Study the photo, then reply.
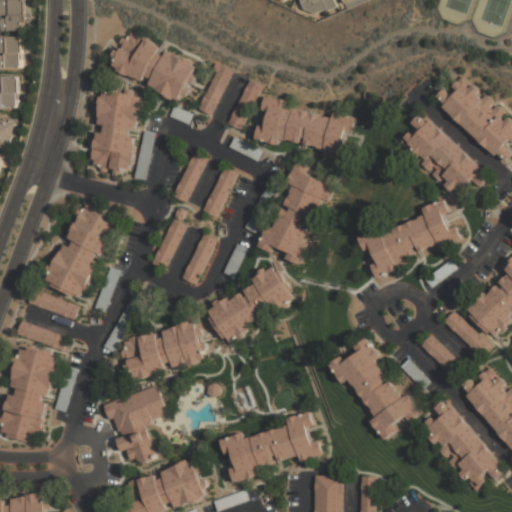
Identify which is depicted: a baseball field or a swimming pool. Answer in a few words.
swimming pool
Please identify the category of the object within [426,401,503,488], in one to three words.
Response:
building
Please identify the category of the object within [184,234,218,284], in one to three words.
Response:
building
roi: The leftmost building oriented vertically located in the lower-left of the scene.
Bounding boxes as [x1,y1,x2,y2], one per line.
[0,343,60,444]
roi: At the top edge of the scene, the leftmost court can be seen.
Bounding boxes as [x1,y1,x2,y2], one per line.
[438,0,476,24]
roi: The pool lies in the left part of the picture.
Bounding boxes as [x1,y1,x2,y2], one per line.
[156,382,226,433]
